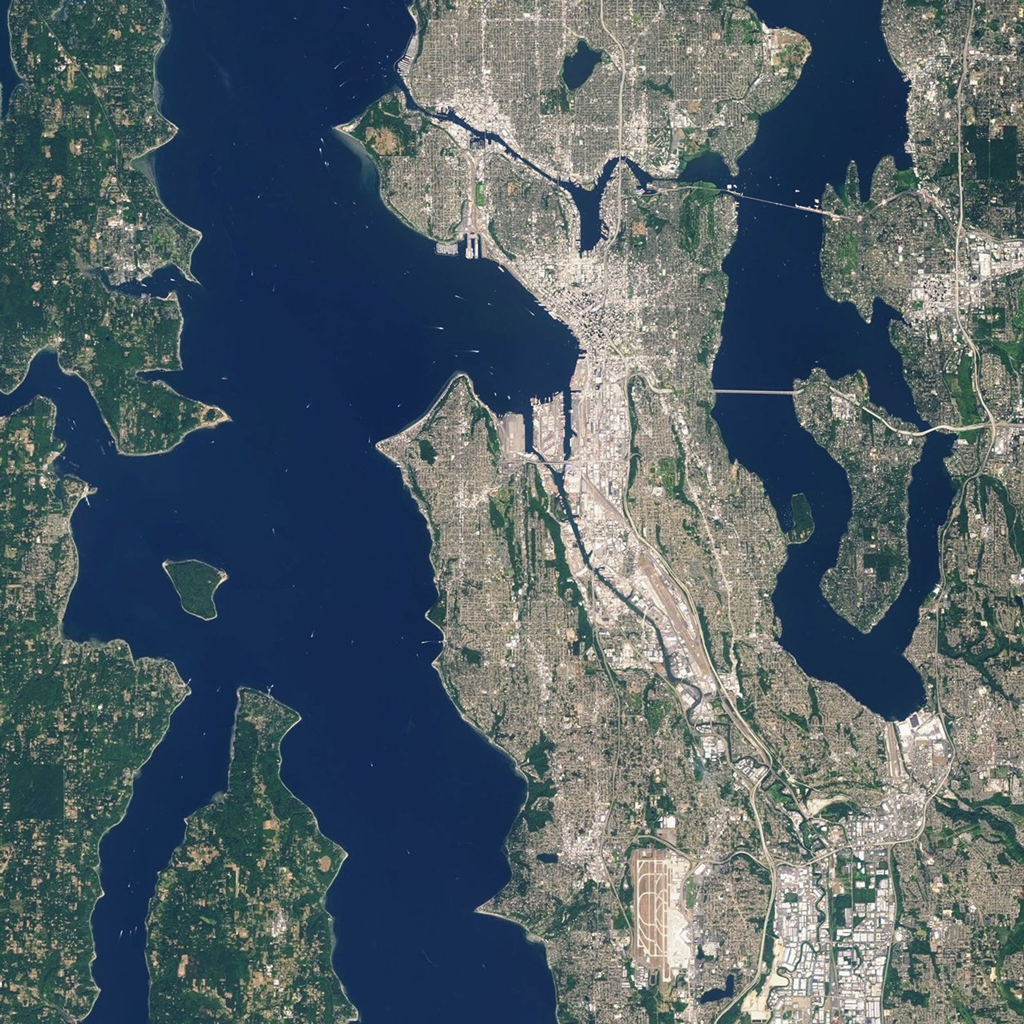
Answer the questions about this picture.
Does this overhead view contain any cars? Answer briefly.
No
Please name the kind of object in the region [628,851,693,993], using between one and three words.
airport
